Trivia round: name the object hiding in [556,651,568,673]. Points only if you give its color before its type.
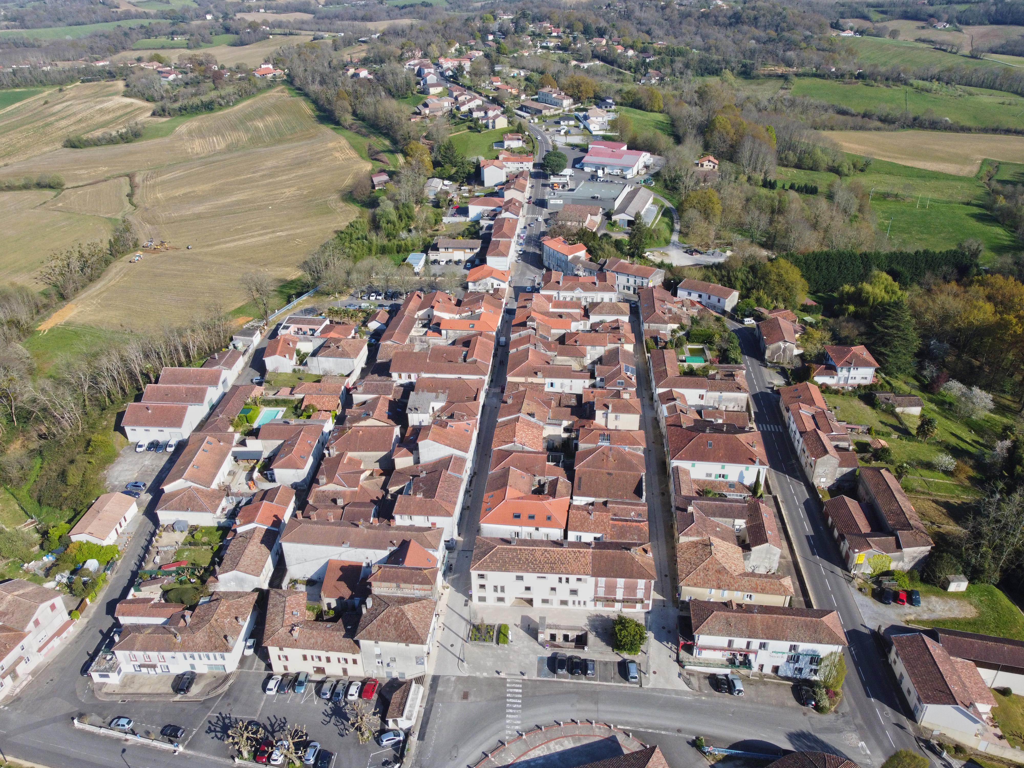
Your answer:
gray vehicle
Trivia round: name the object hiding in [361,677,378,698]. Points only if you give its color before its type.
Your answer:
red car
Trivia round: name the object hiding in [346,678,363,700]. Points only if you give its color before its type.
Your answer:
white car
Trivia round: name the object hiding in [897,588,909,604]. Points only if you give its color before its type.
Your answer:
red vehicle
